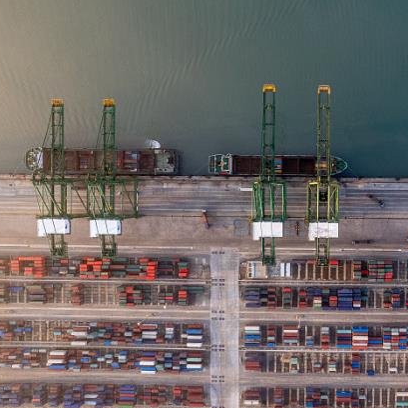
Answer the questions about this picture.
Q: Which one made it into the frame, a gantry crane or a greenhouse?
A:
gantry crane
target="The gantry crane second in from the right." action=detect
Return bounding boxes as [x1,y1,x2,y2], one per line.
[251,84,293,266]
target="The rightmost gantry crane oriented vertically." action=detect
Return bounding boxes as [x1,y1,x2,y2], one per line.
[303,85,342,266]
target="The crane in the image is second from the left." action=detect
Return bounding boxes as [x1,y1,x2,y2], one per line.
[84,87,149,258]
